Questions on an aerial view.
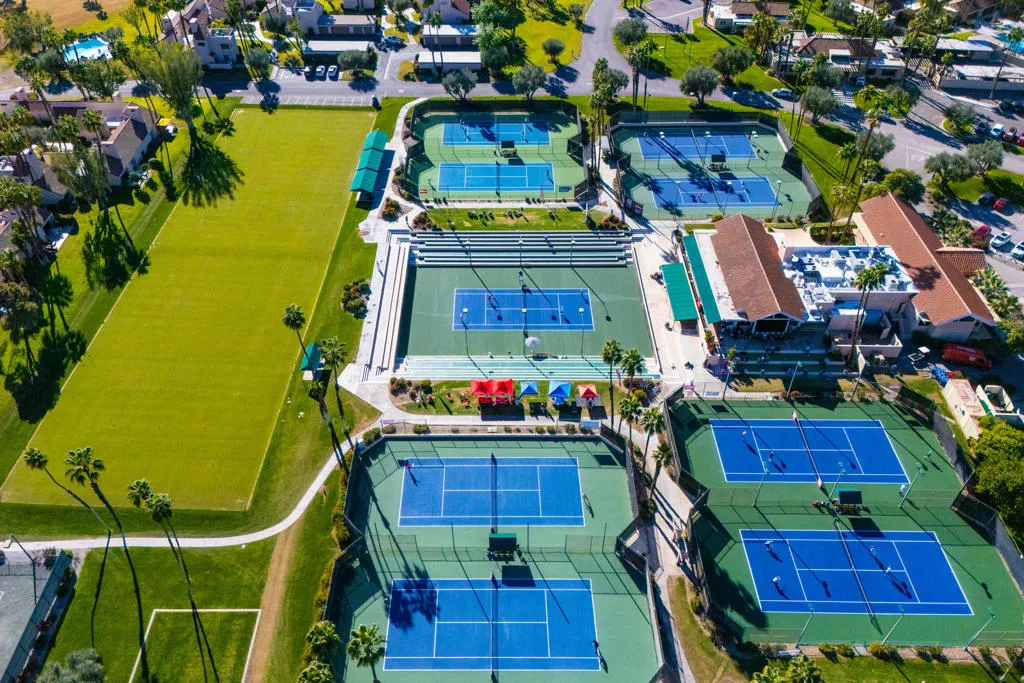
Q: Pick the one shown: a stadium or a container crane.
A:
stadium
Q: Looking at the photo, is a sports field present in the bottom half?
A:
Yes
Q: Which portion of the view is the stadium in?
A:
center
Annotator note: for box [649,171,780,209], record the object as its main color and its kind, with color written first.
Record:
blue tennis court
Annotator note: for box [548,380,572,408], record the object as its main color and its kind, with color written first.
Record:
blue tent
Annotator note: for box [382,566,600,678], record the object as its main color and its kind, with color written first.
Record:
blue tennis court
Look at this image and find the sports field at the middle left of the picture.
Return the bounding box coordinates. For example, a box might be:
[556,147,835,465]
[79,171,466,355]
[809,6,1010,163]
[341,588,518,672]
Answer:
[0,108,376,510]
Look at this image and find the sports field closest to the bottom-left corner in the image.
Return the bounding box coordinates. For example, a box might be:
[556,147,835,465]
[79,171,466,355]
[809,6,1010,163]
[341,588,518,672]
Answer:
[127,608,262,683]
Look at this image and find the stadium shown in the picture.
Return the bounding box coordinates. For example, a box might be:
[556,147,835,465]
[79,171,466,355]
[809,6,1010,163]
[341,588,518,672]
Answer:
[362,228,668,379]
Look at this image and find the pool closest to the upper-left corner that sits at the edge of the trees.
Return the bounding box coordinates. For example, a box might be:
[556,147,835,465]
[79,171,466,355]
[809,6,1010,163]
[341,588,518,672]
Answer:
[62,37,109,60]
